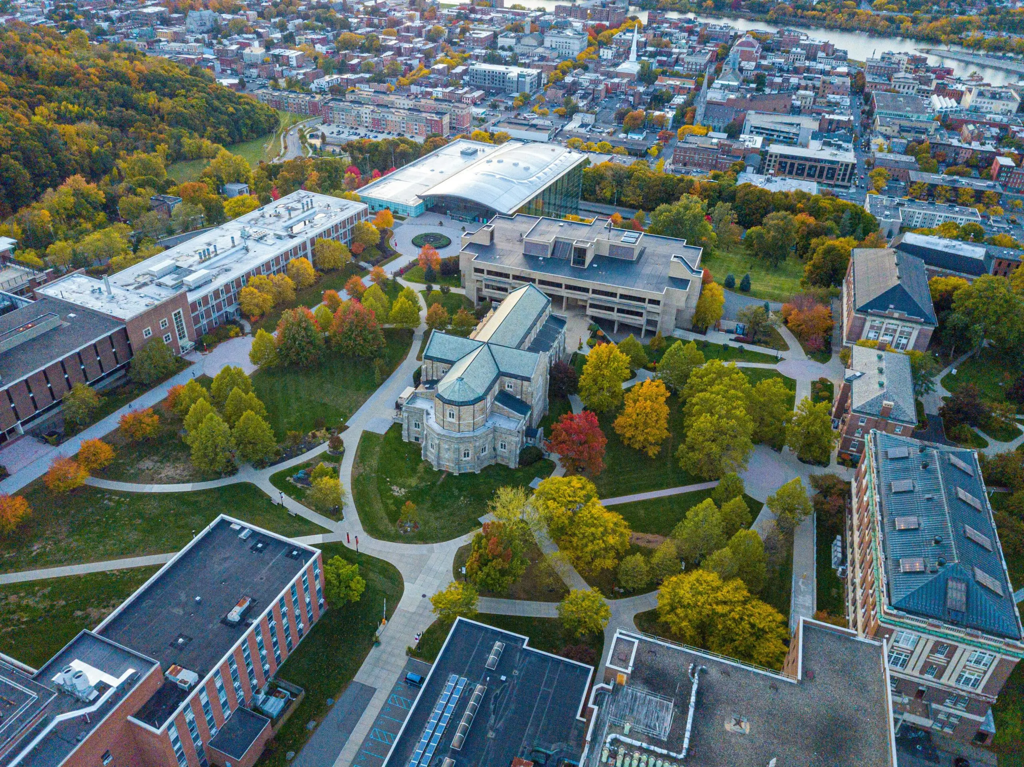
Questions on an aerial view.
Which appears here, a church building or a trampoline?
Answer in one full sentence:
Looking from above, you can make out a church building.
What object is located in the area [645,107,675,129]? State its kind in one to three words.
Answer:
house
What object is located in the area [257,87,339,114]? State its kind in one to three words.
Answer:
building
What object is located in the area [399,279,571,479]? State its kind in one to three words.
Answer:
church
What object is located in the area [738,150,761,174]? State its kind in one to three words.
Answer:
house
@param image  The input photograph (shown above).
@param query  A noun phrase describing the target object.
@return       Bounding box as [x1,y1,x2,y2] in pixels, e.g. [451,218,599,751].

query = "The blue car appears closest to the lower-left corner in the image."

[400,671,427,689]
